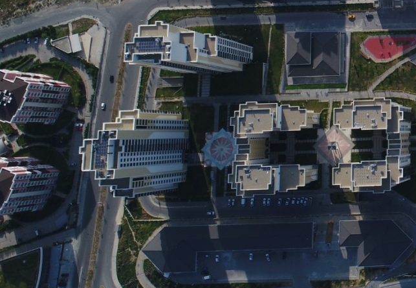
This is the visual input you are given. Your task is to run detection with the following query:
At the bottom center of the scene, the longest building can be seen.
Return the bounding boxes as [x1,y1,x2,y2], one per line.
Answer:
[141,222,315,272]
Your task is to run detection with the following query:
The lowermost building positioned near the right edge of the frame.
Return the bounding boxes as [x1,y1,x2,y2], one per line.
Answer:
[340,220,413,266]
